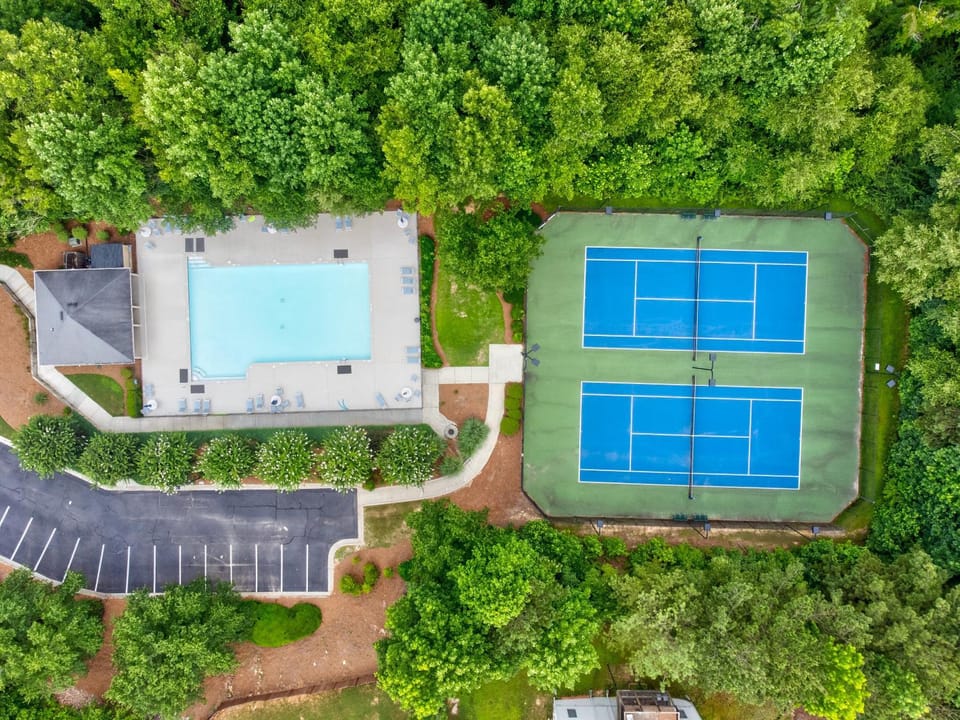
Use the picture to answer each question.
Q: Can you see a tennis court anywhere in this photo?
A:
Yes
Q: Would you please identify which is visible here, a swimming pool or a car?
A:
swimming pool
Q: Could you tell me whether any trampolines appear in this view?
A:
No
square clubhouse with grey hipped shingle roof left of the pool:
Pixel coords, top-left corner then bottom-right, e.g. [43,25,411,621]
[32,266,149,367]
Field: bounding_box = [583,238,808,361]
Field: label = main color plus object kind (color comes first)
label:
blue tennis court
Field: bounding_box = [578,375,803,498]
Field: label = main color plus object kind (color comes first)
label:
blue tennis court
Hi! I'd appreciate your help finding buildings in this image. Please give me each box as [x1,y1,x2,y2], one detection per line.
[32,266,149,367]
[552,676,701,720]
